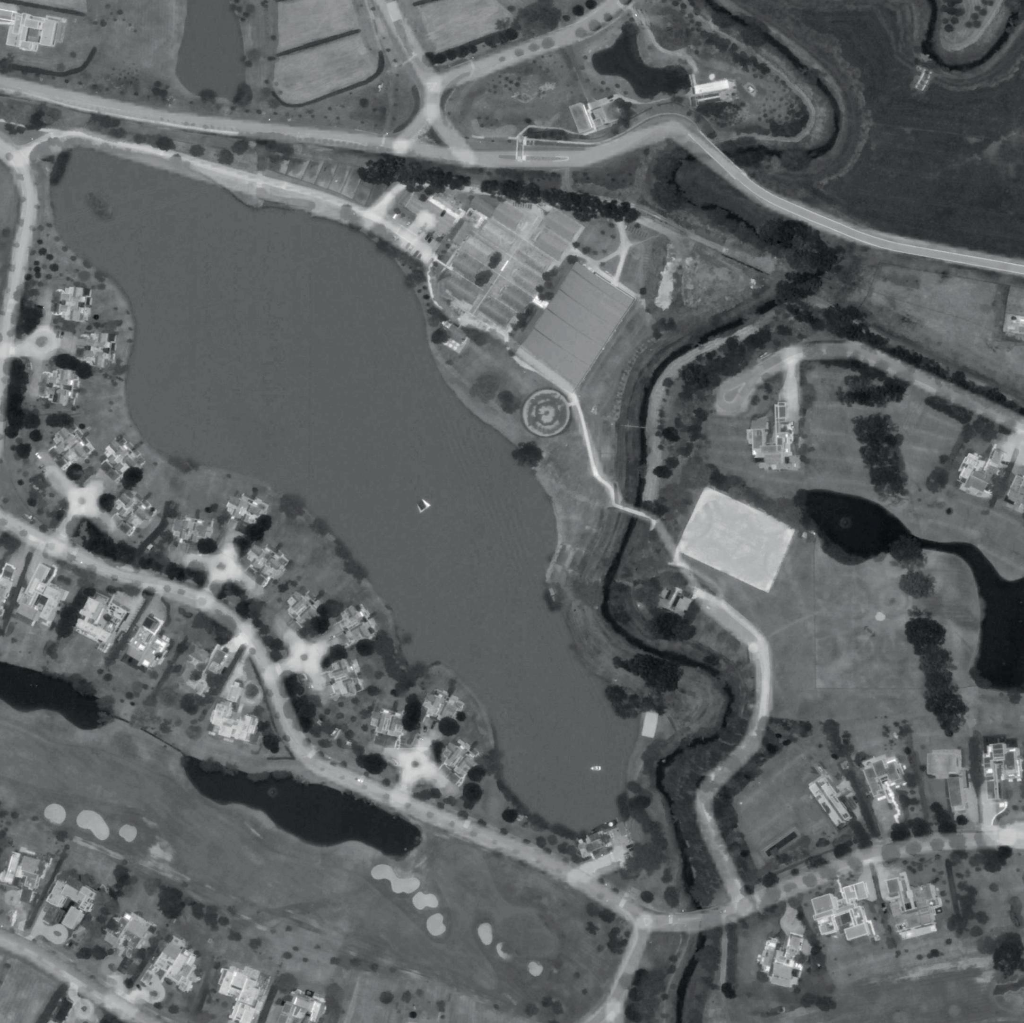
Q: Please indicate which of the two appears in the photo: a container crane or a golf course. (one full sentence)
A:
The image shows a golf course.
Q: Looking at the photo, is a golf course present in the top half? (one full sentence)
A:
No, looking in the top half, there is no golf course.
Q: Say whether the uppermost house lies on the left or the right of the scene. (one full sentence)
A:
The uppermost house appears in the left half of the scene.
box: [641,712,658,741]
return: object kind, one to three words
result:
building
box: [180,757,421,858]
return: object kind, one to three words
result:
pond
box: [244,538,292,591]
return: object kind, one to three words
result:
house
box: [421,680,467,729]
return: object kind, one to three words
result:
house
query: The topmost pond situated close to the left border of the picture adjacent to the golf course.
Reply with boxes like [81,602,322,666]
[0,662,113,730]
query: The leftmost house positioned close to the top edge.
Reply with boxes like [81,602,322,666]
[0,5,66,51]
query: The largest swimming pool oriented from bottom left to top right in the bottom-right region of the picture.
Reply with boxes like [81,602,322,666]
[765,830,799,858]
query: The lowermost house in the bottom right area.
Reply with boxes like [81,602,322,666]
[757,932,805,988]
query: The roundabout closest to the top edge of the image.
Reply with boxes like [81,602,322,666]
[0,327,60,361]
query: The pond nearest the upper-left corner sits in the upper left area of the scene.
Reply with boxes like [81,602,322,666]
[175,0,246,98]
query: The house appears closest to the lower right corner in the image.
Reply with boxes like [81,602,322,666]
[886,877,943,941]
